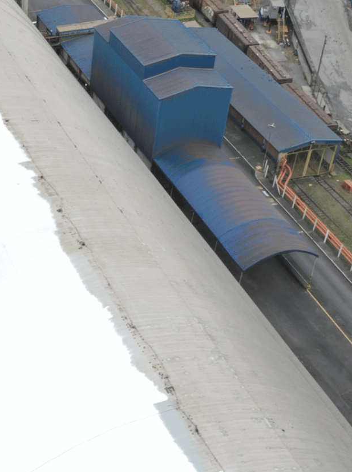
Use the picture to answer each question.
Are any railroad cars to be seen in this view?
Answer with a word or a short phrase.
Yes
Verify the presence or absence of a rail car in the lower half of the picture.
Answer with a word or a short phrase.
No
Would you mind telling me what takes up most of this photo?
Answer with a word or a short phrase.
buildings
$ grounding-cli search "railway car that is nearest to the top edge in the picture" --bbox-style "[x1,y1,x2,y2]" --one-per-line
[195,0,228,24]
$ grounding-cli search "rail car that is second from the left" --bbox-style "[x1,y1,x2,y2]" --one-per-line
[215,12,261,56]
